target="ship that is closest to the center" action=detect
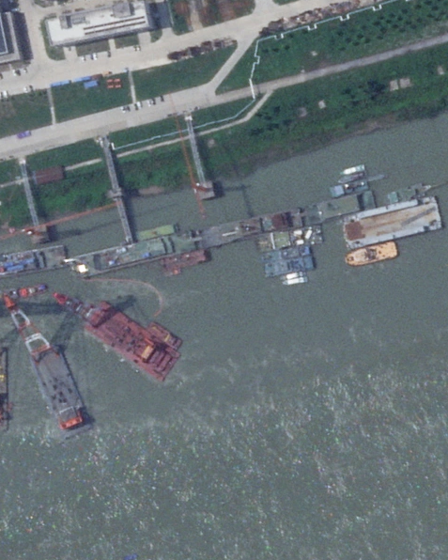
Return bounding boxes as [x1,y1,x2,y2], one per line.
[162,250,207,276]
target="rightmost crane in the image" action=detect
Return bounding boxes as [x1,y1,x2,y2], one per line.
[168,89,209,220]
